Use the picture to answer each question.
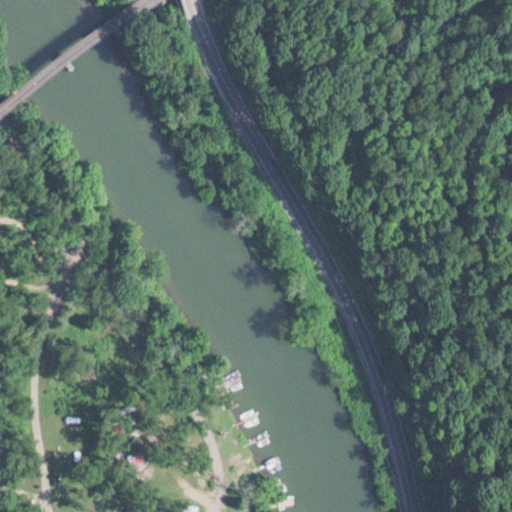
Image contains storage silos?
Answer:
No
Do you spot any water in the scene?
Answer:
Yes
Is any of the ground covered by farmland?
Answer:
No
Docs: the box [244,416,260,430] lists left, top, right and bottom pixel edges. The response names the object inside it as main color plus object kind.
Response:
white boat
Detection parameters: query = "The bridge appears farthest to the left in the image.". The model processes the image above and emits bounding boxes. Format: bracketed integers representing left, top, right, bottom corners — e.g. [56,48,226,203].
[0,0,143,120]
